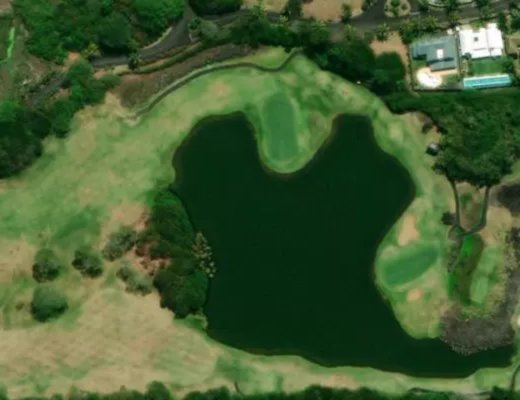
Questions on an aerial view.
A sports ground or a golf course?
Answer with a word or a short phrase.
golf course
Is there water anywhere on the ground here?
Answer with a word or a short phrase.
Yes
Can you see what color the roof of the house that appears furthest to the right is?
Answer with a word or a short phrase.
white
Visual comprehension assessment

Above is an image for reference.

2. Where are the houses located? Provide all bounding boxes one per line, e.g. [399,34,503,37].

[459,22,503,57]
[411,35,459,69]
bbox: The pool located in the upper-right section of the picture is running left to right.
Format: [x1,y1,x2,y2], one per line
[462,75,511,89]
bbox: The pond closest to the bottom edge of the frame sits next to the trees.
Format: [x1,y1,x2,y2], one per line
[171,112,516,378]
